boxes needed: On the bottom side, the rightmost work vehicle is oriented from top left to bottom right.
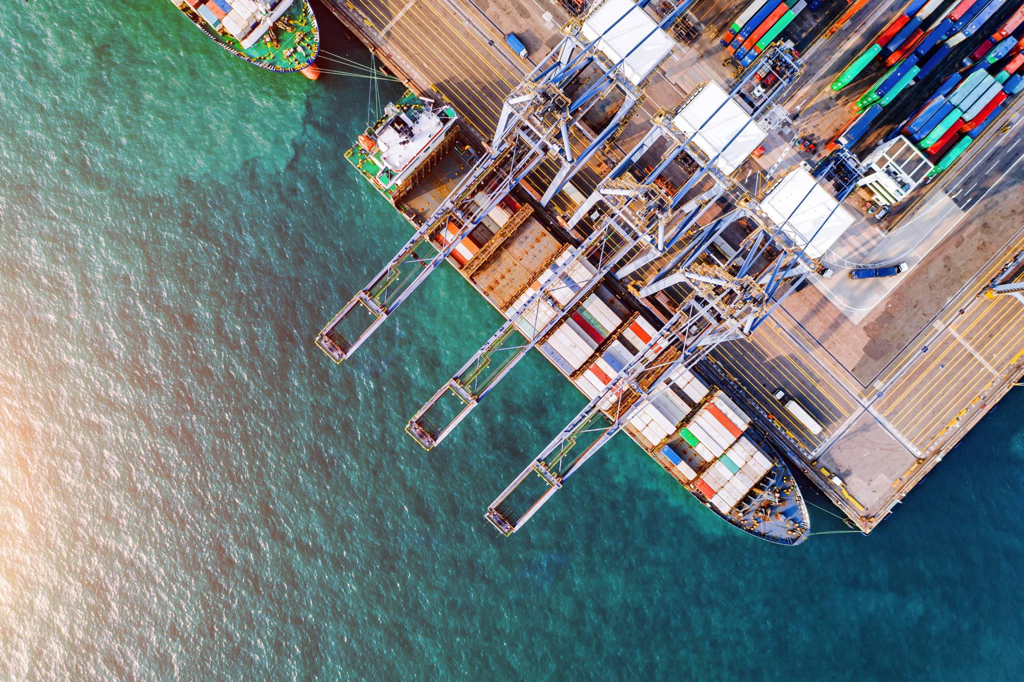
[825,470,846,490]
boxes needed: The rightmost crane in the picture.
[971,249,1024,306]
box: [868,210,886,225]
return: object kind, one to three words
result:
car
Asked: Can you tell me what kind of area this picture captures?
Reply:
port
